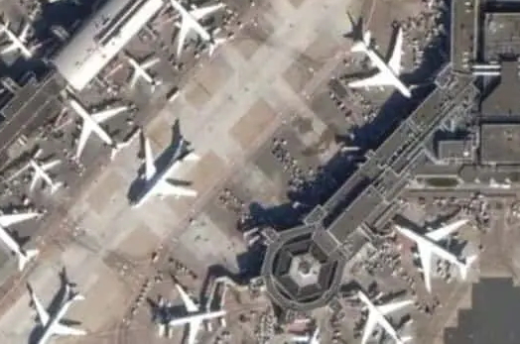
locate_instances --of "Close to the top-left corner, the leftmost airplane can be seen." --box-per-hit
[0,22,30,57]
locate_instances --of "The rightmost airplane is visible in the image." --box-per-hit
[394,218,473,288]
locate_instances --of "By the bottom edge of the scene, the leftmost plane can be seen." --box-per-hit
[35,289,91,344]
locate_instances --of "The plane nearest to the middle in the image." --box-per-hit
[131,142,198,208]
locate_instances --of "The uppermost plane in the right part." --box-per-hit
[346,33,409,96]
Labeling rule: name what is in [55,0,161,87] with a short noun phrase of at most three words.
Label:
building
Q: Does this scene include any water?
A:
No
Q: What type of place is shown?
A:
airport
